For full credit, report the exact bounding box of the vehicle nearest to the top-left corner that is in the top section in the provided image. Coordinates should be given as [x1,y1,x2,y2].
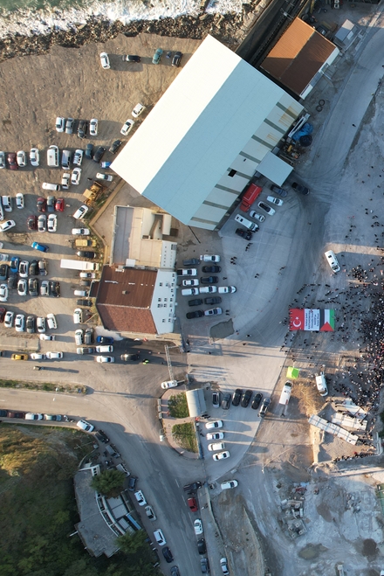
[99,52,113,71]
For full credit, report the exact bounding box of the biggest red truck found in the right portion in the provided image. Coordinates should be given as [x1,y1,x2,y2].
[240,183,265,212]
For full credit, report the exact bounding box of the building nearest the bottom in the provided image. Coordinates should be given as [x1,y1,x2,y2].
[70,461,146,558]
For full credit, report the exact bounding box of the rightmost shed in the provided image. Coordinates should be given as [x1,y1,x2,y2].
[334,19,357,44]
